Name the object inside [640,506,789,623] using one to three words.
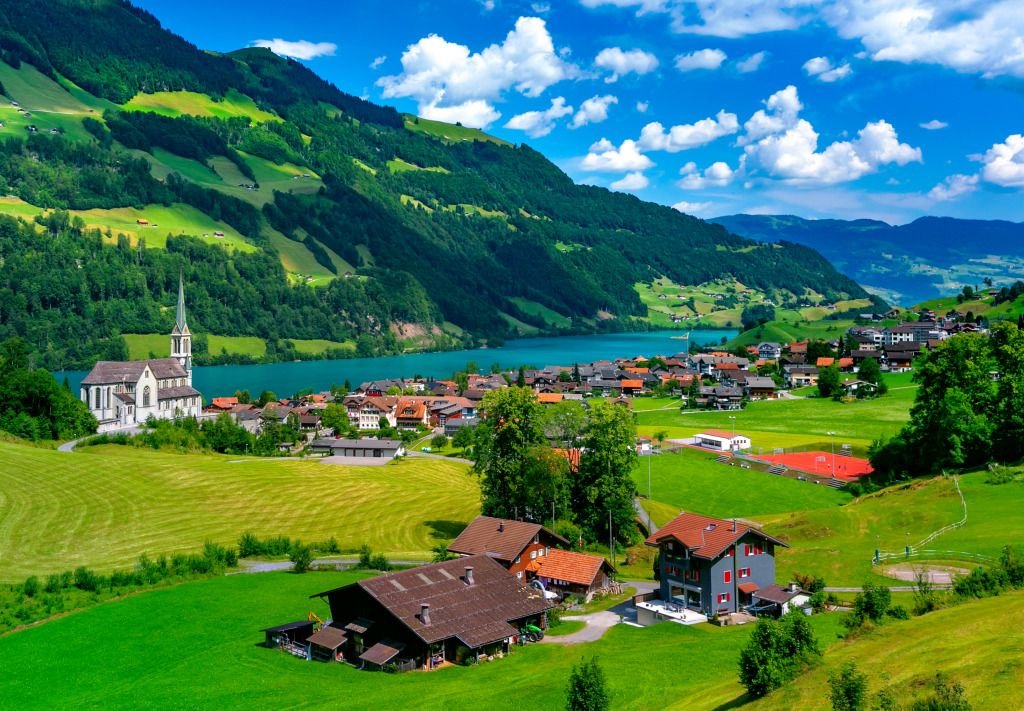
house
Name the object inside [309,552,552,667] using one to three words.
barn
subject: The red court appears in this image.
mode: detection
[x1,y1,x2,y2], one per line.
[752,449,871,481]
